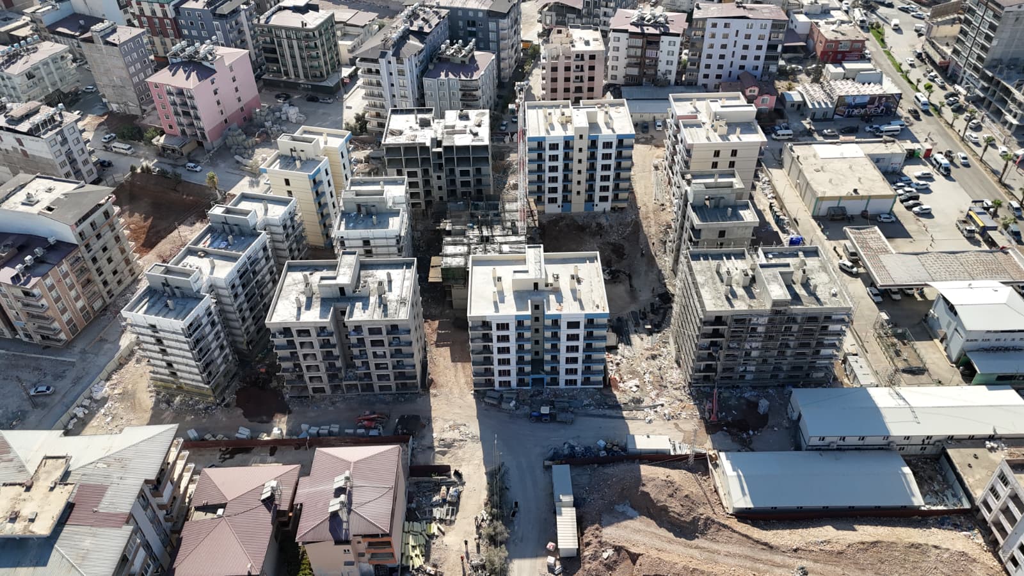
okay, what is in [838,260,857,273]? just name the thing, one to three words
vehicle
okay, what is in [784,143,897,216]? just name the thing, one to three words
building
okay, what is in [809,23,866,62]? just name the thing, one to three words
building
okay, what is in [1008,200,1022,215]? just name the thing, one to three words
vehicle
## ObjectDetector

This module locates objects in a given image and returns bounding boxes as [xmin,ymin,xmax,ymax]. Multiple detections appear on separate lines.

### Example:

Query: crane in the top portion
[514,60,530,253]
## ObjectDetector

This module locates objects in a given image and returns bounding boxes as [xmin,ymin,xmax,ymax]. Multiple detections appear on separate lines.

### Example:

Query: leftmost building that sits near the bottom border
[0,422,216,576]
